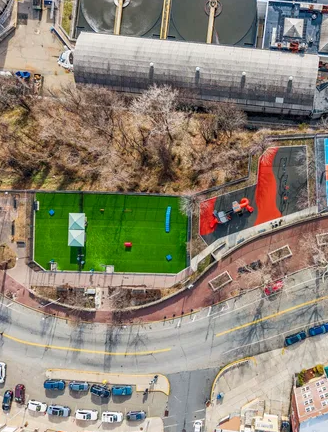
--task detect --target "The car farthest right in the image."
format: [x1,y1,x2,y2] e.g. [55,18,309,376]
[308,323,328,337]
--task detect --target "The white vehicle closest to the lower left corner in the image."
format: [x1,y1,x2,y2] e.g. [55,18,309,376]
[27,399,49,413]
